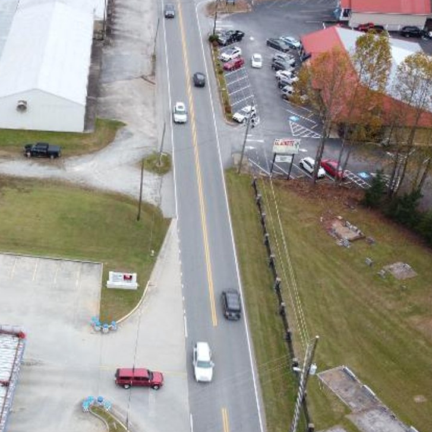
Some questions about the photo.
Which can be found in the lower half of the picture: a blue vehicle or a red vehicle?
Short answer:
red vehicle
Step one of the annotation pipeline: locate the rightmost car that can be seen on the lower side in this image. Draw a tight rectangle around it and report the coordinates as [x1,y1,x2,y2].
[222,290,242,317]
